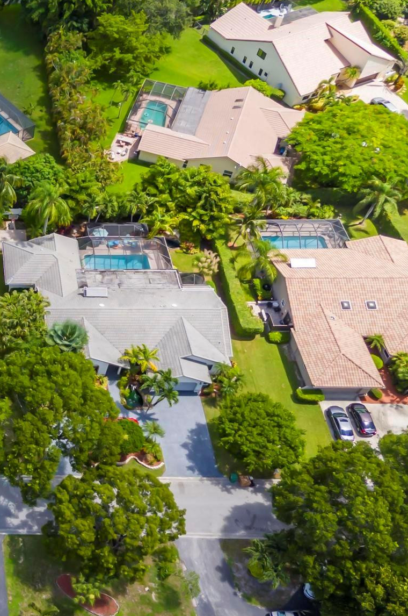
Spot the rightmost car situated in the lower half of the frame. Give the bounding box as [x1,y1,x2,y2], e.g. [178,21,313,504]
[348,403,377,436]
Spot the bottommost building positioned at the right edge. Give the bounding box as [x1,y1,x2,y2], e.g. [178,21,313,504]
[274,234,408,398]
